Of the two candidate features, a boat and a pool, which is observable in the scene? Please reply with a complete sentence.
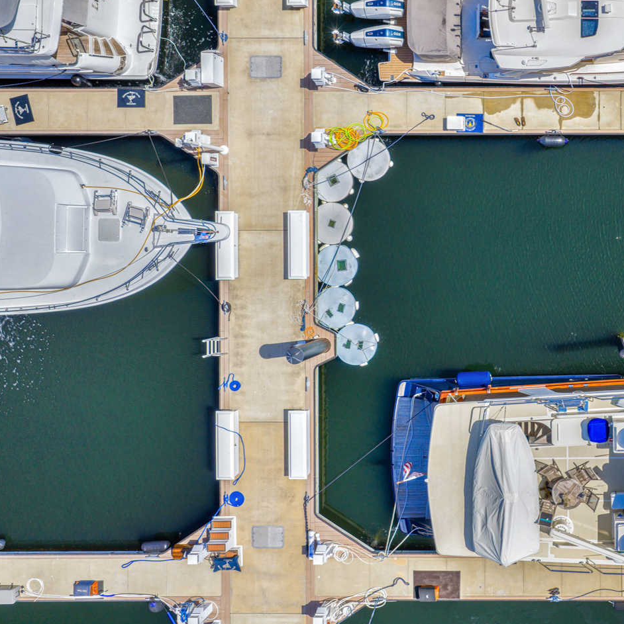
Looking from above, you can make out a boat.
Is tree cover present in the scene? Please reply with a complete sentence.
No, tree cover can't be seen anywhere here.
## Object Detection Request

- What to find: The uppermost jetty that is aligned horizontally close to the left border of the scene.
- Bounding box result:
[0,86,219,136]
